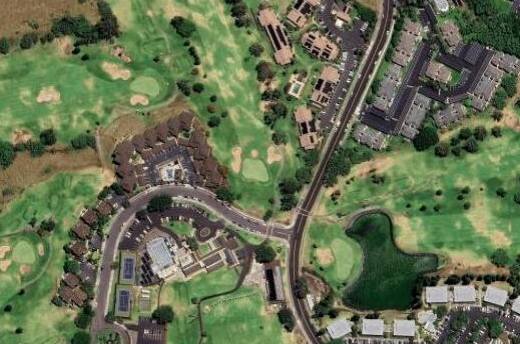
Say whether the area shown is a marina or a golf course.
golf course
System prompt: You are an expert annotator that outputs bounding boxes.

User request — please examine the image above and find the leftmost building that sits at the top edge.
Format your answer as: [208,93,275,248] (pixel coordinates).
[257,6,294,66]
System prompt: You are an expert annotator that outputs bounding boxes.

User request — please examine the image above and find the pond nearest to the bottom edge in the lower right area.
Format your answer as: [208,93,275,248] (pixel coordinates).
[344,209,439,312]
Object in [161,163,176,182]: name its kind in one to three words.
swimming pool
